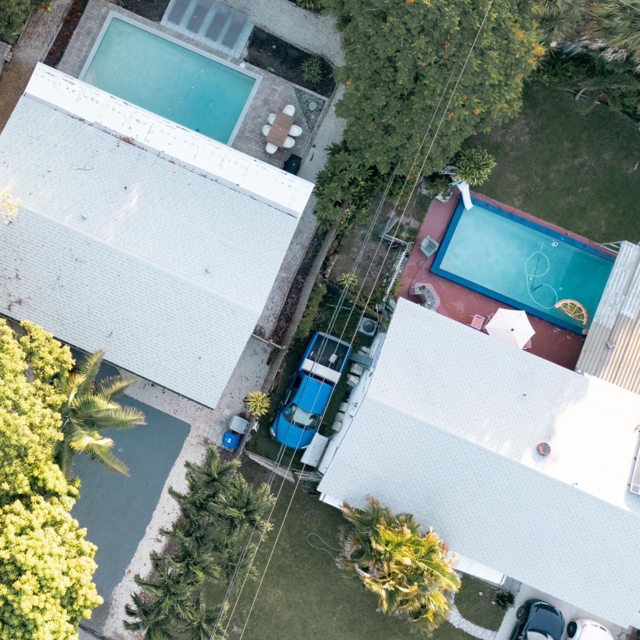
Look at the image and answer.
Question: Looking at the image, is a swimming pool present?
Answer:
Yes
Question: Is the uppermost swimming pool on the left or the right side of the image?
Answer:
left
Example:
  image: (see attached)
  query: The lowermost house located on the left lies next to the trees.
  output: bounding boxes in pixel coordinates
[0,59,317,410]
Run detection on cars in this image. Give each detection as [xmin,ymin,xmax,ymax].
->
[502,593,566,640]
[563,612,621,640]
